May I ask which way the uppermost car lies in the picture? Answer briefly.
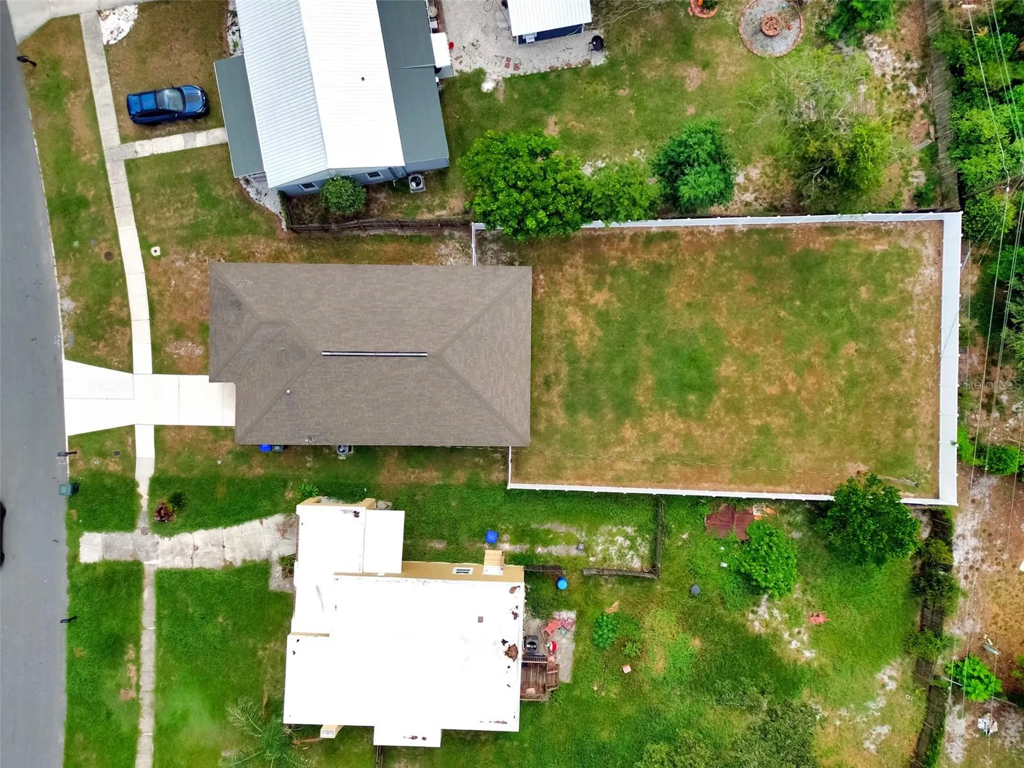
from left to right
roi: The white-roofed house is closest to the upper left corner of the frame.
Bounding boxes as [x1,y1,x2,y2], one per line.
[214,0,451,195]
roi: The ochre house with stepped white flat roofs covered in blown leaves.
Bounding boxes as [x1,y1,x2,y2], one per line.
[283,504,525,748]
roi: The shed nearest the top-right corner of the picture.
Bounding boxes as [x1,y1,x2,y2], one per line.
[506,0,592,50]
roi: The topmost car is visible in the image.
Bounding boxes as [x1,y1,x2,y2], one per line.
[125,86,212,131]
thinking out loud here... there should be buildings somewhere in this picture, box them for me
[214,0,451,195]
[506,0,592,50]
[283,504,525,748]
[208,261,533,448]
